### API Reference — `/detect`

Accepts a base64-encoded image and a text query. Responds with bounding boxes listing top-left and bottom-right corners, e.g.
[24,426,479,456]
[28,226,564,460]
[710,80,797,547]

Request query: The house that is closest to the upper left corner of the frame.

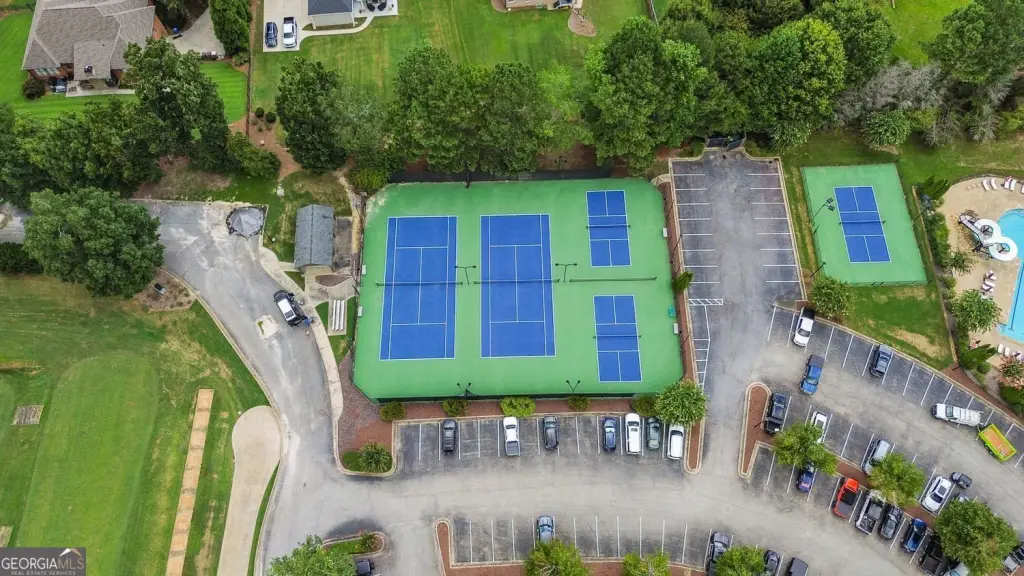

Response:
[21,0,159,90]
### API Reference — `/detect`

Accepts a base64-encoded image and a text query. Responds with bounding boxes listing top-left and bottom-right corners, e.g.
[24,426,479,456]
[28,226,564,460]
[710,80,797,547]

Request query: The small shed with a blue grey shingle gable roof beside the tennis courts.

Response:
[293,204,334,265]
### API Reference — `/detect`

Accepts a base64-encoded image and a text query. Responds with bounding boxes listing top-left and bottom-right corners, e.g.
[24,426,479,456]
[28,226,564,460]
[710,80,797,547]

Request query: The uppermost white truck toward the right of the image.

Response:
[793,305,816,349]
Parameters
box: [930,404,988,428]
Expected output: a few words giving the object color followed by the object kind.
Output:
white truck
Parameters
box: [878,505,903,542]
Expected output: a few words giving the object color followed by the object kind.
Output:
gray car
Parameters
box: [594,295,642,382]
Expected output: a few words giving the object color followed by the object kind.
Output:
blue sports court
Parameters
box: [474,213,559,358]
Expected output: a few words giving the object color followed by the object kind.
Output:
blue tennis court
